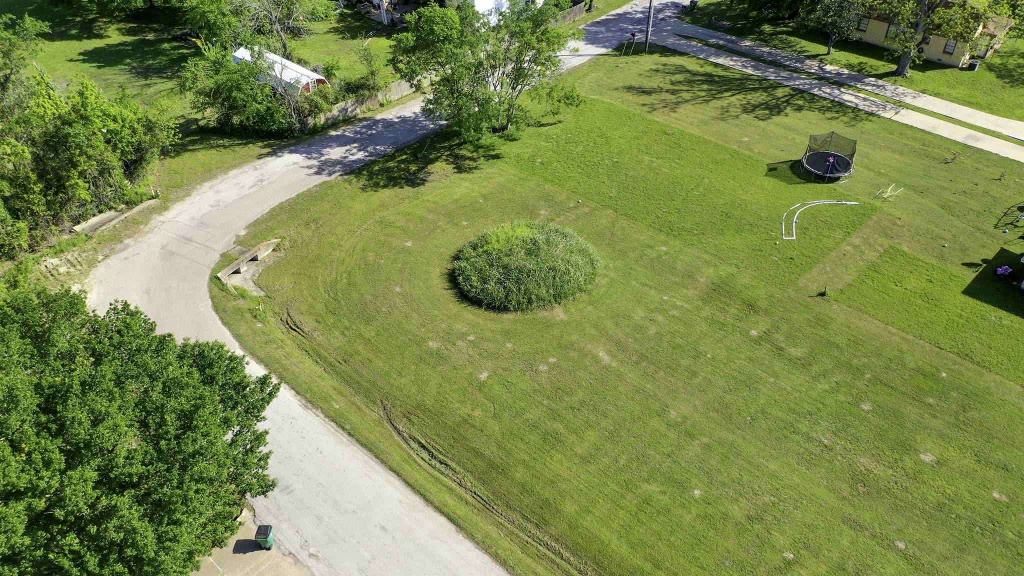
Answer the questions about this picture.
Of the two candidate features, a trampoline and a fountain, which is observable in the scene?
trampoline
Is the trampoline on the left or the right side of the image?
right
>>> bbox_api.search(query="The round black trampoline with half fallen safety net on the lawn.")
[798,130,867,187]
